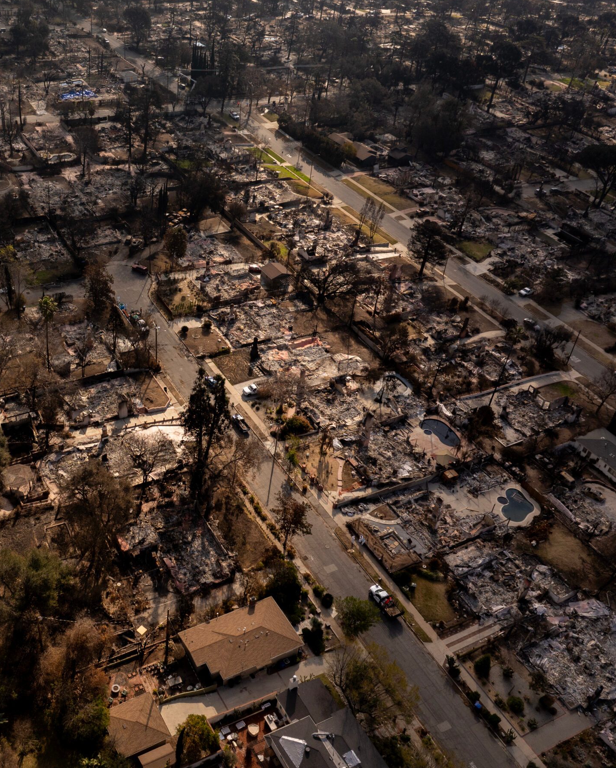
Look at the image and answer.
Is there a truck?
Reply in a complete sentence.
Yes, the frame does contain a truck.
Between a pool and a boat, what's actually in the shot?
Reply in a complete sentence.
This aerial view contains a pool.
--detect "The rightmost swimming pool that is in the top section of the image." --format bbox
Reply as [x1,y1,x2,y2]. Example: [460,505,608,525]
[554,229,583,246]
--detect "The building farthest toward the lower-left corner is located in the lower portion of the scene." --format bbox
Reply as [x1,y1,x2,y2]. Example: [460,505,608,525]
[109,693,177,768]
